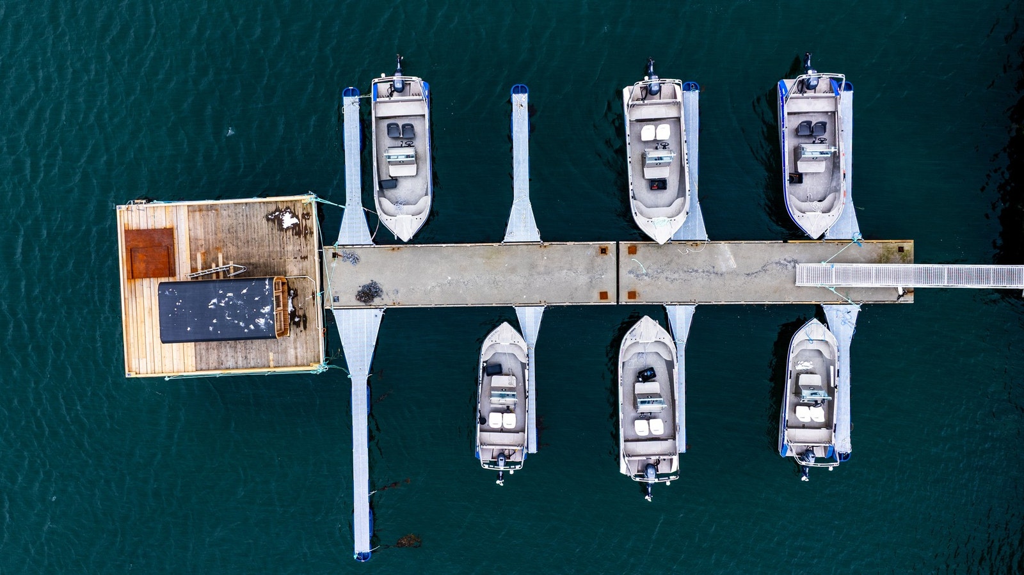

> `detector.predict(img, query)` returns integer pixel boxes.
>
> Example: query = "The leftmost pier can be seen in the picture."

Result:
[324,240,623,311]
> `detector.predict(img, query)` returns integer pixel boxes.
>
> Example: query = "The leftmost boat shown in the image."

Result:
[373,51,435,242]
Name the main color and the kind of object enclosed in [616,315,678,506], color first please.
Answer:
white boat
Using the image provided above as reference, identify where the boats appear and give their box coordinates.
[616,315,678,506]
[778,47,845,240]
[477,322,529,493]
[779,318,837,487]
[623,54,686,245]
[373,51,435,242]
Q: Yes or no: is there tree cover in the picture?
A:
No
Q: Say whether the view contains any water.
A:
Yes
